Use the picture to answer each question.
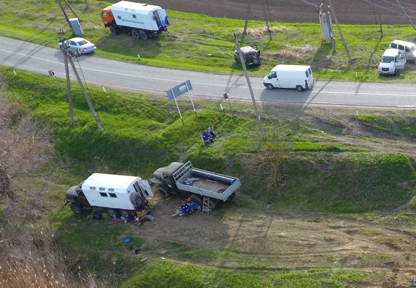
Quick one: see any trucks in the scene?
Yes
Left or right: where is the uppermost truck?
left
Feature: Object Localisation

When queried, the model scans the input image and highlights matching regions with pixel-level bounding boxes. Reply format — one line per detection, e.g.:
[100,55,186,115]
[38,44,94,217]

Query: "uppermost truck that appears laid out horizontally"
[92,1,171,41]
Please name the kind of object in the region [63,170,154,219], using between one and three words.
truck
